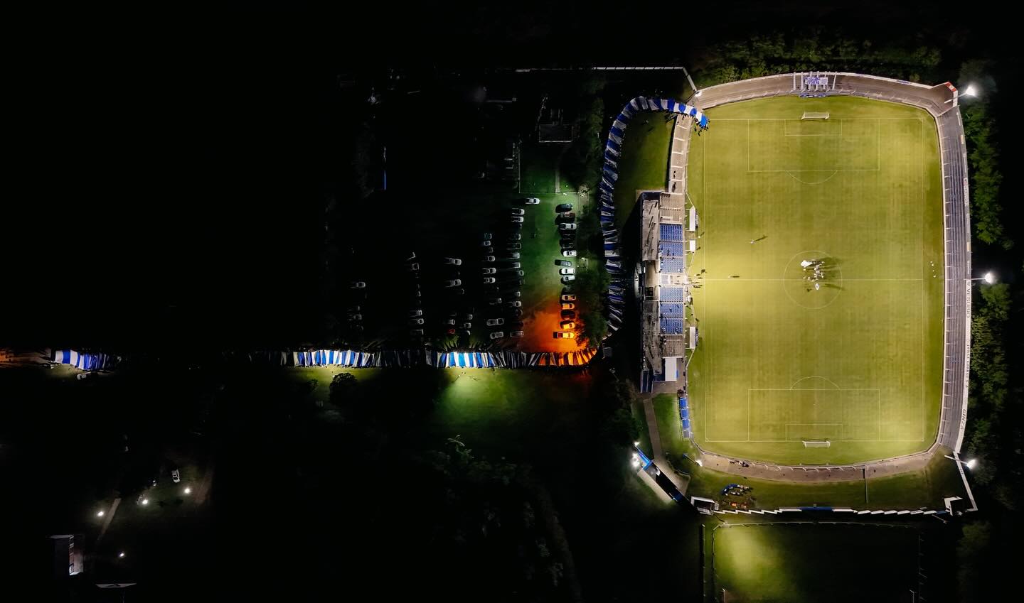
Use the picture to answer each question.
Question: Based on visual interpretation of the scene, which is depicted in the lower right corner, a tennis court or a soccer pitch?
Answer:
soccer pitch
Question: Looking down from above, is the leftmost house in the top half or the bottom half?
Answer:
bottom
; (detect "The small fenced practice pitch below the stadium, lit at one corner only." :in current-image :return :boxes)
[714,523,919,603]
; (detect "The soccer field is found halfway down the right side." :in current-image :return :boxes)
[686,96,942,466]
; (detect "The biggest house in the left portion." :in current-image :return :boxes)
[54,532,77,577]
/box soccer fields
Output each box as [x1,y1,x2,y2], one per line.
[686,96,942,466]
[714,523,919,603]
